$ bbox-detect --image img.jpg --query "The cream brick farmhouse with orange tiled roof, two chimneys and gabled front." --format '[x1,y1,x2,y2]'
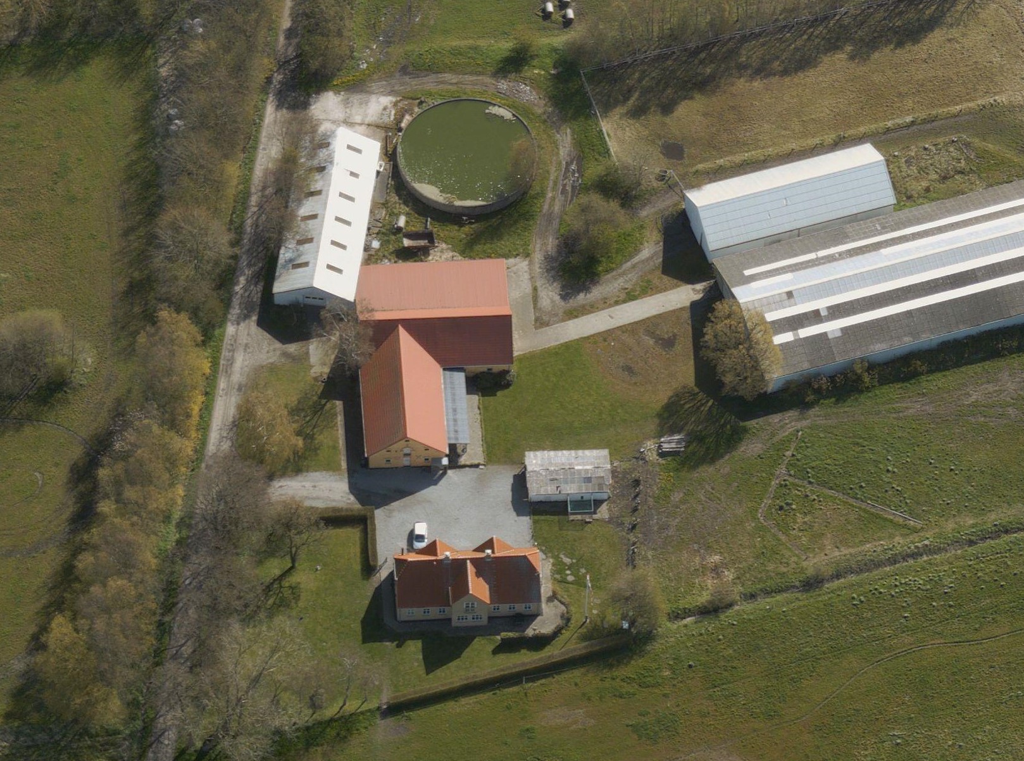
[394,535,544,627]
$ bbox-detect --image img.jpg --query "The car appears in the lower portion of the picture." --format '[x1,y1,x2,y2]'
[411,522,429,551]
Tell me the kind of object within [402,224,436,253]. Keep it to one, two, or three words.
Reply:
trailer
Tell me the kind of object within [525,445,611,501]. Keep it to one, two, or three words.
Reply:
shed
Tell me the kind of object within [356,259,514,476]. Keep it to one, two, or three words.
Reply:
barn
